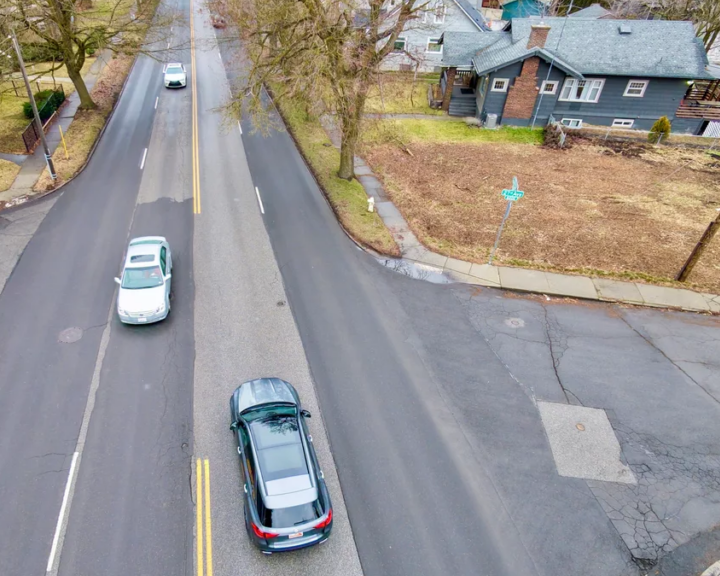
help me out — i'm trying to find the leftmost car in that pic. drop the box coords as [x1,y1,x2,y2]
[114,239,171,321]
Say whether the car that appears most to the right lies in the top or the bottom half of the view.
bottom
